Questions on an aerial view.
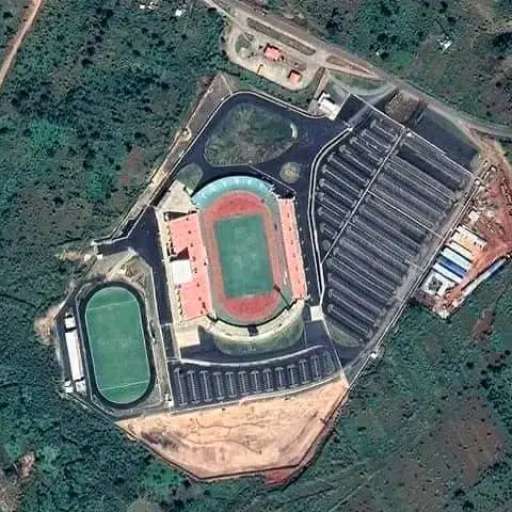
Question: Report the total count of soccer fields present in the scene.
2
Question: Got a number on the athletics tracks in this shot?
2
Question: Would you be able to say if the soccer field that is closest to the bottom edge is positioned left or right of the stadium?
on the left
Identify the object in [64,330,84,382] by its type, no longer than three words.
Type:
building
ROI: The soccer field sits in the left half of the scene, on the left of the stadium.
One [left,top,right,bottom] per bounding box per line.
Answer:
[87,287,150,403]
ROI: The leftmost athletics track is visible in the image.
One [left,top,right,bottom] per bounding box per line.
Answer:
[81,280,156,410]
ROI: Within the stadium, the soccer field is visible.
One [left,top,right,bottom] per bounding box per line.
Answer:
[215,214,274,299]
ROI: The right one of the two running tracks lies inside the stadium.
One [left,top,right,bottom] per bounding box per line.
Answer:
[205,191,284,322]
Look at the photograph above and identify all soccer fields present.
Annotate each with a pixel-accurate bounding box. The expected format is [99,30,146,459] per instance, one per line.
[87,287,150,403]
[215,214,274,299]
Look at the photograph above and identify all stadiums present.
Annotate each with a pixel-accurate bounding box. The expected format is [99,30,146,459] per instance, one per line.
[157,176,312,354]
